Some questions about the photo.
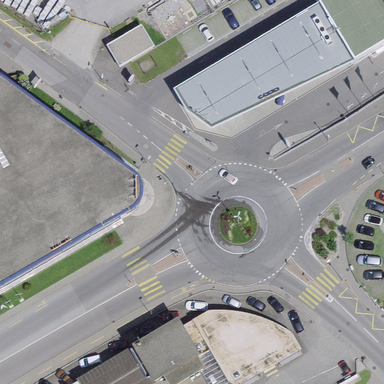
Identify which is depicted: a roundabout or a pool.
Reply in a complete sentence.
Looking from above, you can make out a roundabout.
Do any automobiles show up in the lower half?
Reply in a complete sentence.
Yes, an automobile shows up in the lower half.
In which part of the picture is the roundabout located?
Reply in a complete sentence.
You can find the roundabout in the center area of the picture.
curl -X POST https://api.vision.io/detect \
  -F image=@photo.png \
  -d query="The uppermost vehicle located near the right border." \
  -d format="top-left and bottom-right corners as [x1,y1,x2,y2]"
[360,156,376,169]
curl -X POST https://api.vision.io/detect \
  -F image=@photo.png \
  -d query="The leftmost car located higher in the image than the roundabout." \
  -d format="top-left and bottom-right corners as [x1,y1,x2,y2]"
[198,23,213,42]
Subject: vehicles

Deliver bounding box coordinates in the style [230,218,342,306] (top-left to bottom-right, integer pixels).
[77,354,102,368]
[362,212,383,226]
[264,0,274,6]
[52,365,70,384]
[374,190,384,202]
[218,170,238,186]
[221,293,242,309]
[105,338,129,352]
[266,294,284,314]
[356,255,381,266]
[248,0,260,10]
[360,156,376,169]
[185,300,208,310]
[362,270,384,280]
[286,310,304,333]
[159,309,180,323]
[364,198,384,214]
[354,224,376,236]
[245,294,266,312]
[221,7,238,30]
[353,240,374,250]
[337,358,352,377]
[198,23,213,42]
